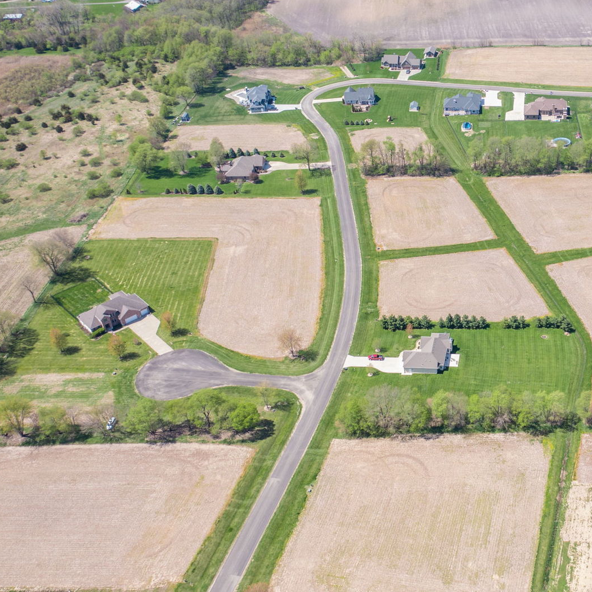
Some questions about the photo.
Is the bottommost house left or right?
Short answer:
right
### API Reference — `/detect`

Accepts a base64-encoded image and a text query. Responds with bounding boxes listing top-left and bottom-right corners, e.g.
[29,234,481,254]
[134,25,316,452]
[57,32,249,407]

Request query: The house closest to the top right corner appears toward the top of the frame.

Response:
[523,101,567,119]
